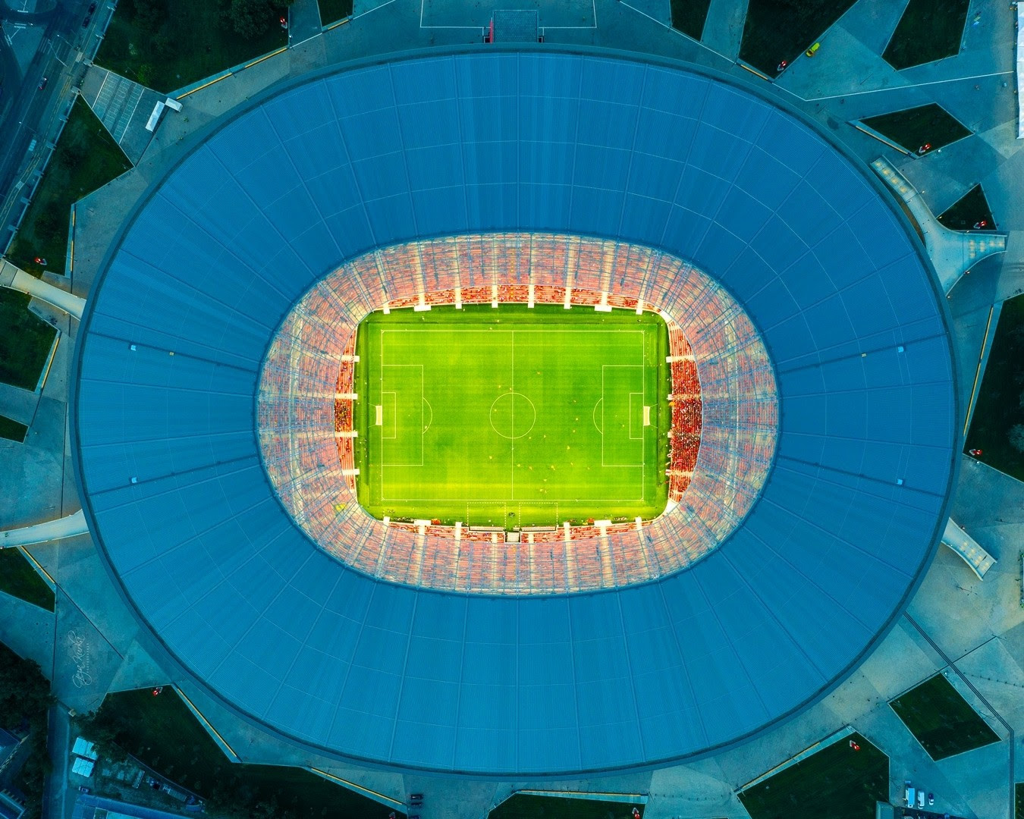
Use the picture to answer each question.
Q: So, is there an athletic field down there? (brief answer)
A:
Yes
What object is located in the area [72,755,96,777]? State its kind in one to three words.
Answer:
shed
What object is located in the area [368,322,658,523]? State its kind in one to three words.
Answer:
sports field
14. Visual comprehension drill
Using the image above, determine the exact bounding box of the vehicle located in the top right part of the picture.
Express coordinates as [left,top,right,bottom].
[806,41,822,57]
